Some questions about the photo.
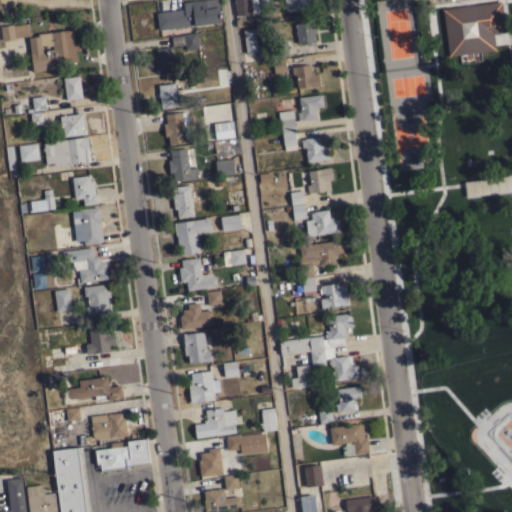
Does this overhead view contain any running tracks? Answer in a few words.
No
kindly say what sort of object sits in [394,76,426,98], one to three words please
sports court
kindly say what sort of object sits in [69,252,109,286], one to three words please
house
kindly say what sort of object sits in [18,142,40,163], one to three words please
building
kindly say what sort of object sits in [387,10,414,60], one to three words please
sports court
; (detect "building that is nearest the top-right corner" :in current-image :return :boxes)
[444,2,504,58]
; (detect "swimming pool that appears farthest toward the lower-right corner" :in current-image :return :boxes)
[308,430,327,444]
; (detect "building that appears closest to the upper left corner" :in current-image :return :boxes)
[0,23,32,41]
